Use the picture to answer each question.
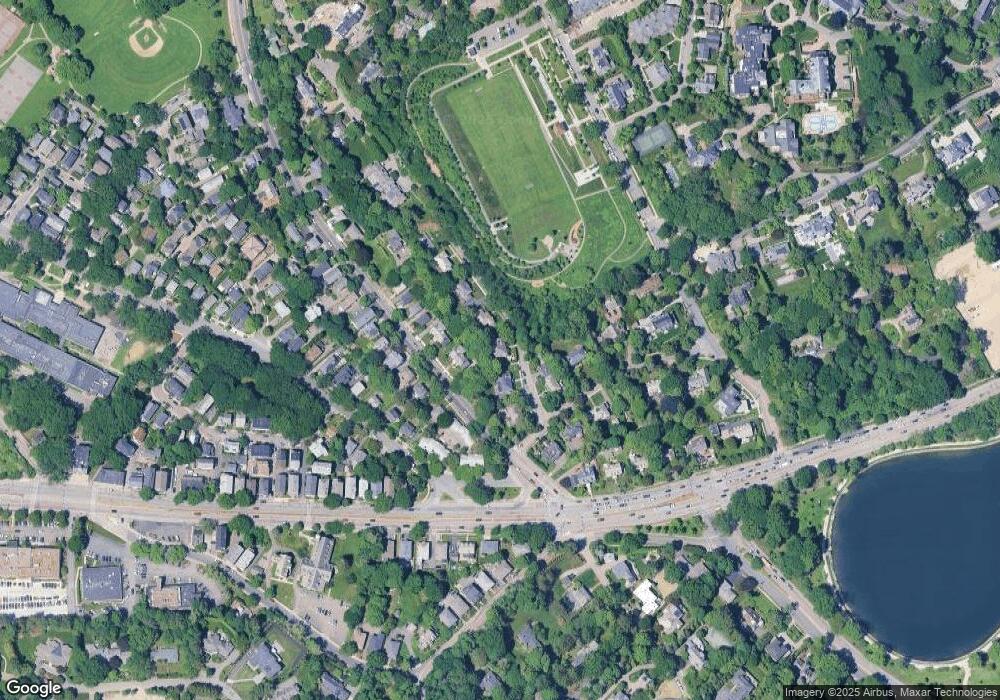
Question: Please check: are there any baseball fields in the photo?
Yes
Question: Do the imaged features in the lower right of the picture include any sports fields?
No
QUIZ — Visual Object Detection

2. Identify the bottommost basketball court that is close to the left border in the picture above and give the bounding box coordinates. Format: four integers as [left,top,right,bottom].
[0,56,42,123]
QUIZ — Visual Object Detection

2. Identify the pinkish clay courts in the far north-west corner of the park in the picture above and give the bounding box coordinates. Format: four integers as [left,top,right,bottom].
[0,12,25,57]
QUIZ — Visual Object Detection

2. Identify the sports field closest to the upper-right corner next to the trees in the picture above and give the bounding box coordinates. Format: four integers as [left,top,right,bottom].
[433,70,581,259]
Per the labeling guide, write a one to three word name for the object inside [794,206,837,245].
house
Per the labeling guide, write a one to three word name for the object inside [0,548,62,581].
building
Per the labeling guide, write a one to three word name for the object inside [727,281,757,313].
house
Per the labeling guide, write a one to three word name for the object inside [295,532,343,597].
building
